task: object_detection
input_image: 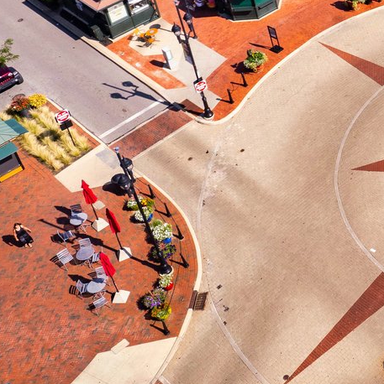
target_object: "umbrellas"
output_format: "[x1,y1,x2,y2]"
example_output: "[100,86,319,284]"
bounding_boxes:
[109,220,137,263]
[105,261,135,307]
[84,189,111,232]
[84,171,111,213]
